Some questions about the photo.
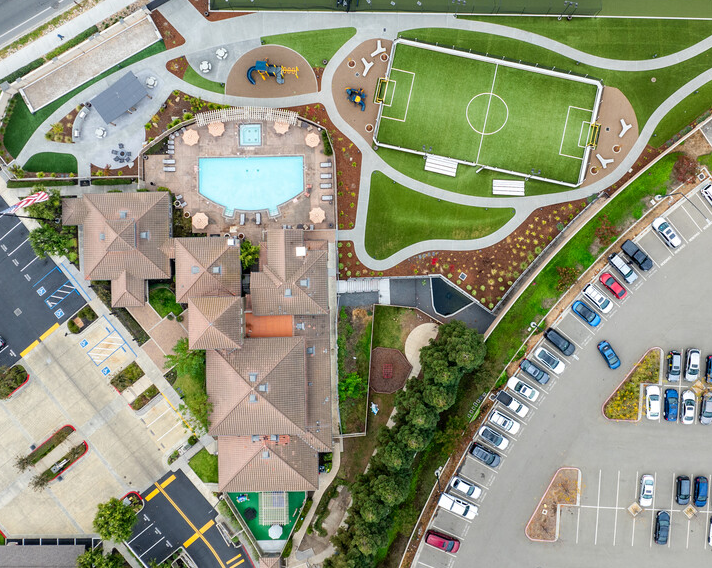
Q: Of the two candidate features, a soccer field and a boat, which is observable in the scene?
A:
soccer field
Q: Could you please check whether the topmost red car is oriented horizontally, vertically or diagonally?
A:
diagonally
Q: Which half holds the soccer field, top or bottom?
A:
top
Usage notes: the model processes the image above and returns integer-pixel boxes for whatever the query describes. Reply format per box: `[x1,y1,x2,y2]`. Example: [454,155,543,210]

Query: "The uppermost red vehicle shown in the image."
[597,271,628,301]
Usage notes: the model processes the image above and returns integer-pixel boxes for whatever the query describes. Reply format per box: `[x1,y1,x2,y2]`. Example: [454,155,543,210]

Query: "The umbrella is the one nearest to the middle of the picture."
[309,207,326,224]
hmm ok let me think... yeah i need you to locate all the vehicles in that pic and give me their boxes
[426,529,459,552]
[661,388,680,421]
[608,253,638,283]
[478,425,508,449]
[683,348,701,380]
[469,441,502,467]
[674,475,690,504]
[619,237,653,273]
[544,328,576,356]
[596,338,620,371]
[519,358,550,385]
[679,391,698,424]
[582,284,613,313]
[644,386,661,418]
[572,300,600,327]
[494,388,531,419]
[439,492,477,518]
[664,350,682,382]
[653,509,670,543]
[691,476,708,505]
[507,375,539,401]
[699,184,712,209]
[652,217,682,248]
[449,475,482,499]
[597,271,628,301]
[703,354,712,383]
[487,408,520,434]
[697,392,712,424]
[535,347,564,372]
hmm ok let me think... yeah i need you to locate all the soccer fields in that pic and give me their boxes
[377,44,596,181]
